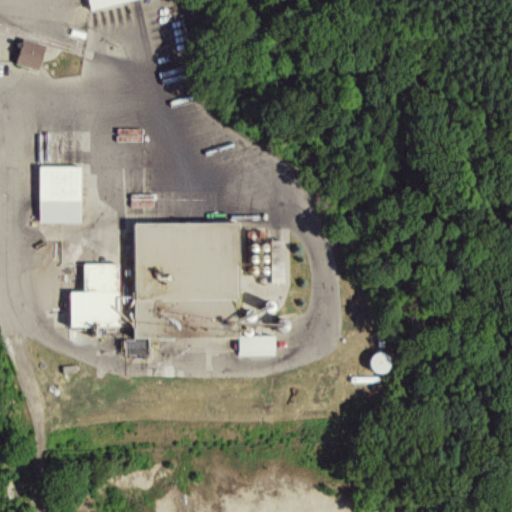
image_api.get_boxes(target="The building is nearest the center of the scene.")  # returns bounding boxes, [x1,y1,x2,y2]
[134,222,240,338]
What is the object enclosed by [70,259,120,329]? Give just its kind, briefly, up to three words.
building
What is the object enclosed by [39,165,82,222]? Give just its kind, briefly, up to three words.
shed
